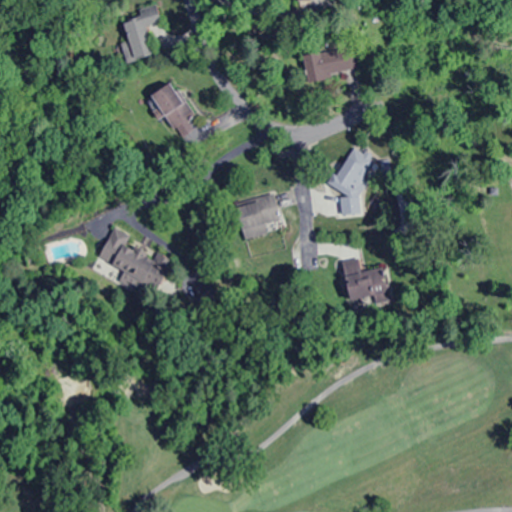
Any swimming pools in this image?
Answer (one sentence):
Yes, there's a swimming pool down there.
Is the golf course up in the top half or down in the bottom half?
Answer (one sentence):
Seen from above, the golf course lies in the bottom half of the view.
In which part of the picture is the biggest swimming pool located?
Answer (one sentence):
The biggest swimming pool sits in the left section of the image.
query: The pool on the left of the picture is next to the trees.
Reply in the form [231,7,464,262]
[46,238,87,264]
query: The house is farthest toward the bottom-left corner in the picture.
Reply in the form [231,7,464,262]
[96,224,170,290]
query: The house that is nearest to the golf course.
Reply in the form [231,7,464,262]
[342,258,392,306]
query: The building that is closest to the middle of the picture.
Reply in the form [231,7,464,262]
[238,193,286,238]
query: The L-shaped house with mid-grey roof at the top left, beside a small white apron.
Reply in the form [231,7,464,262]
[122,4,160,62]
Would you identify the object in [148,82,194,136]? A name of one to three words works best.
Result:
house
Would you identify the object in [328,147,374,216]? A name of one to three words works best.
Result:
house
